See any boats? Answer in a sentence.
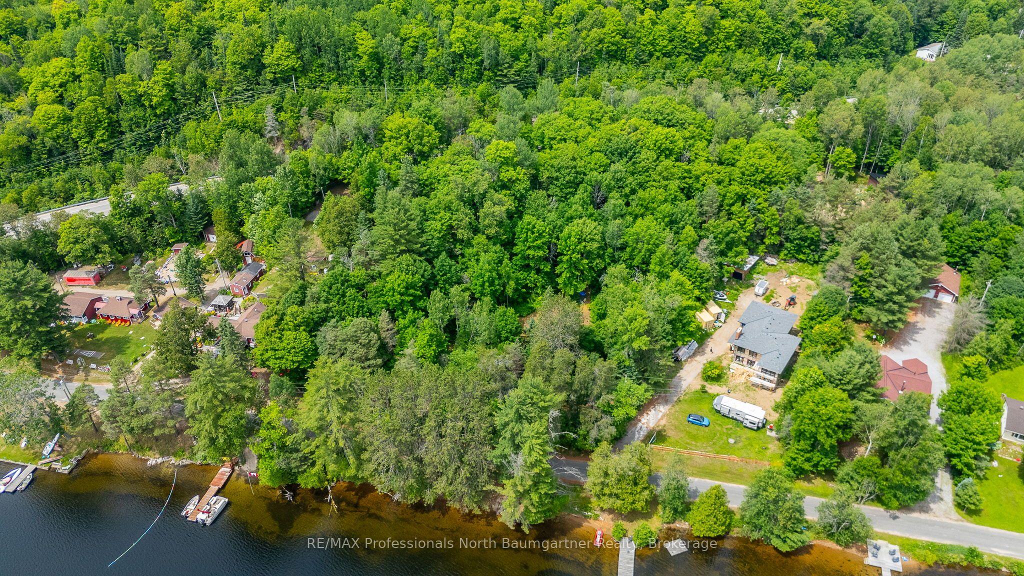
Yes, the frame does contain a boat.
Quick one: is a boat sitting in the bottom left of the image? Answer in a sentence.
Yes, looking in the bottom left of the image, one can make out a boat.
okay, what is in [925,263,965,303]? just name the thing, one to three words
building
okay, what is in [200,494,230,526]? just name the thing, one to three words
boat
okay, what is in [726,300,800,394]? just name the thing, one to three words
house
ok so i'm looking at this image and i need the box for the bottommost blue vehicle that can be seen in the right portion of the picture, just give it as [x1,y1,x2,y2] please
[687,411,710,427]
